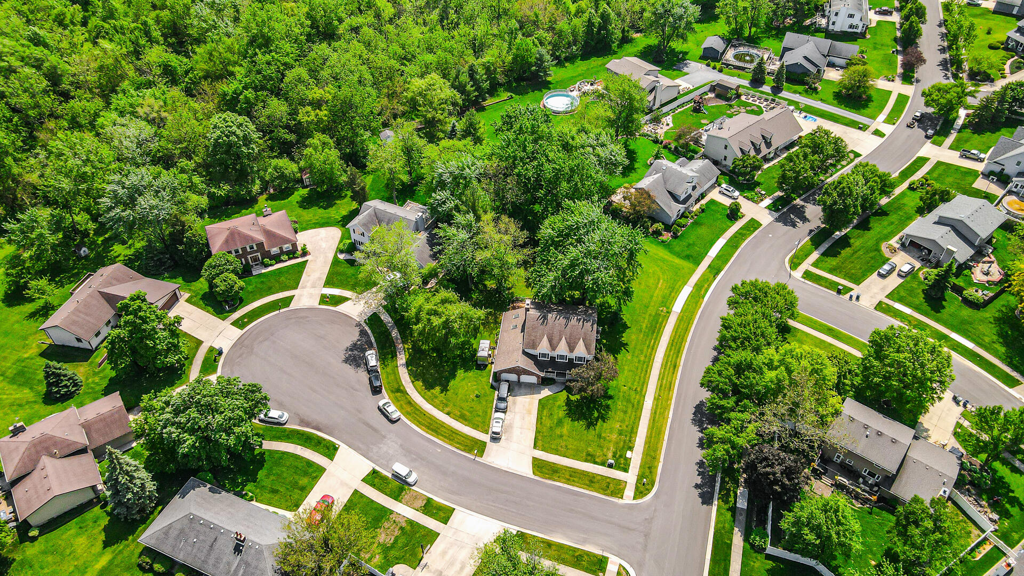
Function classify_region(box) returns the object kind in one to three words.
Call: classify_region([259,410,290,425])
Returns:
car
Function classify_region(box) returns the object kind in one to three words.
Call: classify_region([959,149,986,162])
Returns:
vehicle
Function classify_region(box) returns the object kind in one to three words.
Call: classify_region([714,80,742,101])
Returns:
shed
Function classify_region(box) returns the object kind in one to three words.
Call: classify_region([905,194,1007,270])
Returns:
house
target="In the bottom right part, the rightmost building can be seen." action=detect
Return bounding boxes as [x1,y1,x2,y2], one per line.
[817,395,960,518]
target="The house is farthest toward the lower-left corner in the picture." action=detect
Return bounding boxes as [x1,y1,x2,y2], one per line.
[0,390,136,522]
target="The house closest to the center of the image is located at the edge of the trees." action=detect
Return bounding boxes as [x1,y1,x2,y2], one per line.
[494,297,603,384]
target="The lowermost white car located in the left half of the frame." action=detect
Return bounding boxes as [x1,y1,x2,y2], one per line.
[391,461,418,484]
